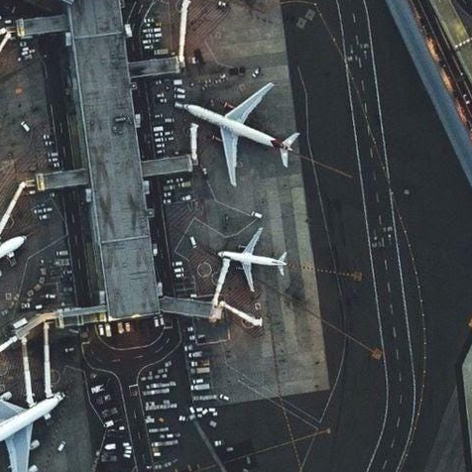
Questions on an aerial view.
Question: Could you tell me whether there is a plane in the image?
Yes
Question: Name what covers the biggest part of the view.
paved ground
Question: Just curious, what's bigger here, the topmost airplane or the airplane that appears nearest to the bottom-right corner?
the topmost airplane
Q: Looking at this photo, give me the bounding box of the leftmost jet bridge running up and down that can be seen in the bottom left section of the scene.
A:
[19,334,33,408]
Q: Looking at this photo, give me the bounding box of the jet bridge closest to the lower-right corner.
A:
[213,298,266,327]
